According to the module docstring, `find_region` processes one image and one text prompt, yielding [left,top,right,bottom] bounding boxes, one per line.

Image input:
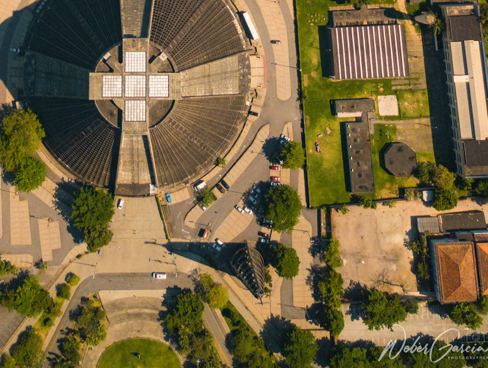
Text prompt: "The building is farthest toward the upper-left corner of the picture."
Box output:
[16,0,257,204]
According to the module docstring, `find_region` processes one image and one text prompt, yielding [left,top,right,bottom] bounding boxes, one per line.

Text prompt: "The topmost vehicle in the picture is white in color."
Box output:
[242,12,258,38]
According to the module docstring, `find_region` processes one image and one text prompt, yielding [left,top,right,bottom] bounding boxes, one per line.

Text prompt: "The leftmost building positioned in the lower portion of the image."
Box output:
[230,239,267,303]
